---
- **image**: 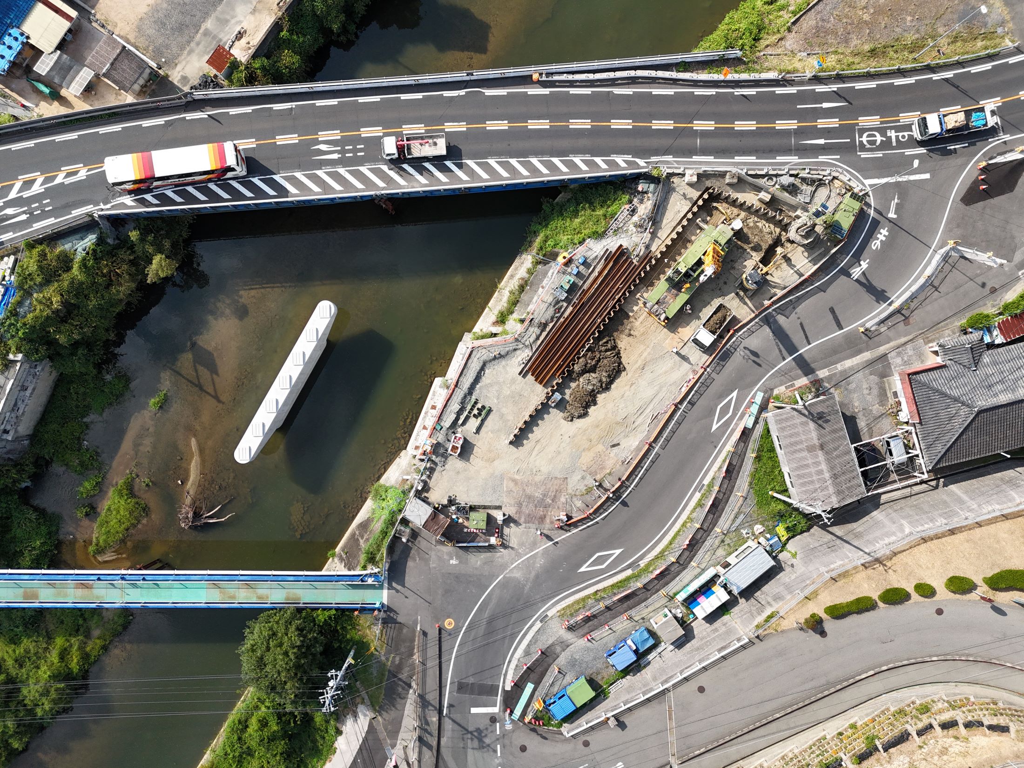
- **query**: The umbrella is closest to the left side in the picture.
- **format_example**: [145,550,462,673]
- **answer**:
[27,78,69,106]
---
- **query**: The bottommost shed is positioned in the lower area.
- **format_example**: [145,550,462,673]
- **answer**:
[647,605,684,645]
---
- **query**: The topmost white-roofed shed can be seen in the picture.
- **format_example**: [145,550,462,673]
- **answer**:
[19,0,78,57]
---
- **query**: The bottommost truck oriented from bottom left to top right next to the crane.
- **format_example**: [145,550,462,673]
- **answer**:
[685,299,739,355]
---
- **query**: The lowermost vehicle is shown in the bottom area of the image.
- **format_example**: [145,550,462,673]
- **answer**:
[540,670,601,729]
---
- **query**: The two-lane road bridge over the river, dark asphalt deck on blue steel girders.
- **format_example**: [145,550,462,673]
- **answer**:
[99,46,741,227]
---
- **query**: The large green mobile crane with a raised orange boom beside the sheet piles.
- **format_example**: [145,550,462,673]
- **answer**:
[636,218,736,326]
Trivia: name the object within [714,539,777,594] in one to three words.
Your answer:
shed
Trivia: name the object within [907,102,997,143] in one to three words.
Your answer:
truck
